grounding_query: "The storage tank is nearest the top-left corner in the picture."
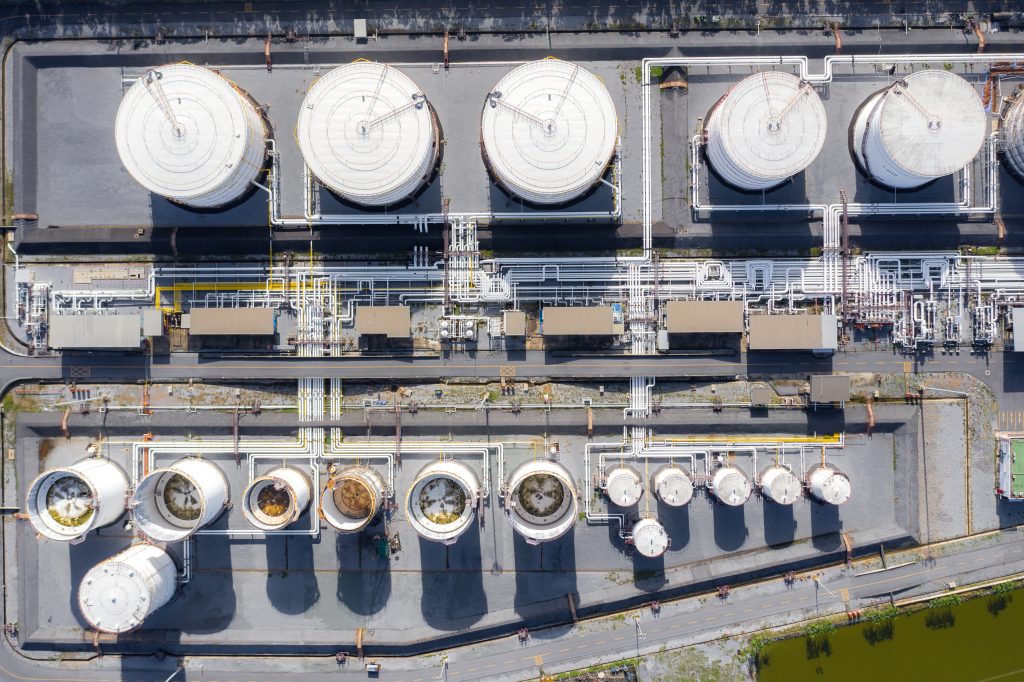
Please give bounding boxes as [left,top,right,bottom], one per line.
[112,59,275,213]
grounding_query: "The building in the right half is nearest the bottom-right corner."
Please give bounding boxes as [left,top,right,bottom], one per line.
[992,436,1024,500]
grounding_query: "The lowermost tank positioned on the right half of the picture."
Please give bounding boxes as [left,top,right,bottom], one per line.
[628,515,669,558]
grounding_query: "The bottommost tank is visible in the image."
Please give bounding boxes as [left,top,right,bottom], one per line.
[76,543,179,635]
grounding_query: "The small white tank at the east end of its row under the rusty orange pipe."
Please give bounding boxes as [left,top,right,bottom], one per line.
[806,465,852,504]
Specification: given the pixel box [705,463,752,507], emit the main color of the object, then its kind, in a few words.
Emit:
white storage tank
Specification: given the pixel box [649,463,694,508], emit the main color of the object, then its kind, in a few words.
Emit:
white storage tank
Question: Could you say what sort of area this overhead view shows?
industrial area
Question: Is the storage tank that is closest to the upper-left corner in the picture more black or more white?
white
